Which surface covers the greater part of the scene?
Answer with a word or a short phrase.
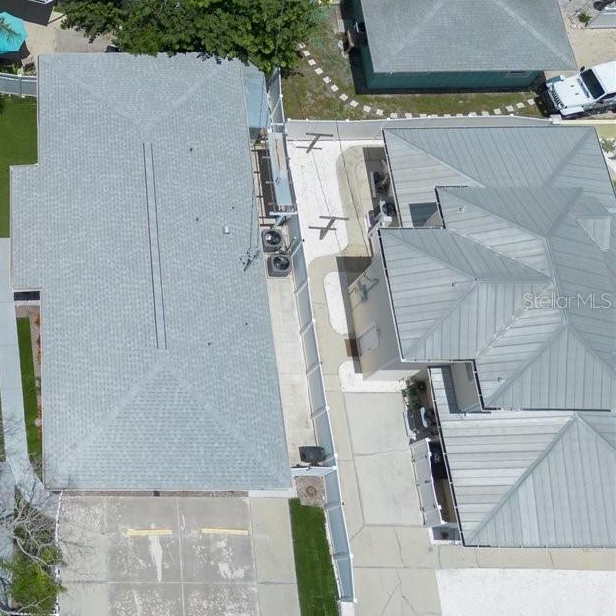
buildings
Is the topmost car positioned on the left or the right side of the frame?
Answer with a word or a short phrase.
right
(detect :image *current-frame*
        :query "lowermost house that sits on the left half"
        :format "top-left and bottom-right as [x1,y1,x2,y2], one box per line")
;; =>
[10,53,295,493]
